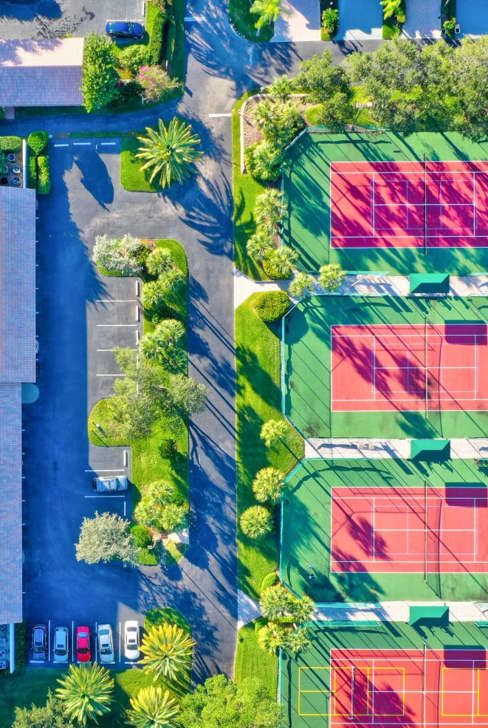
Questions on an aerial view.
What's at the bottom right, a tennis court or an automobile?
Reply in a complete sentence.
What appears at the bottom right is a tennis court.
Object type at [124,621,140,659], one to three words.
car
